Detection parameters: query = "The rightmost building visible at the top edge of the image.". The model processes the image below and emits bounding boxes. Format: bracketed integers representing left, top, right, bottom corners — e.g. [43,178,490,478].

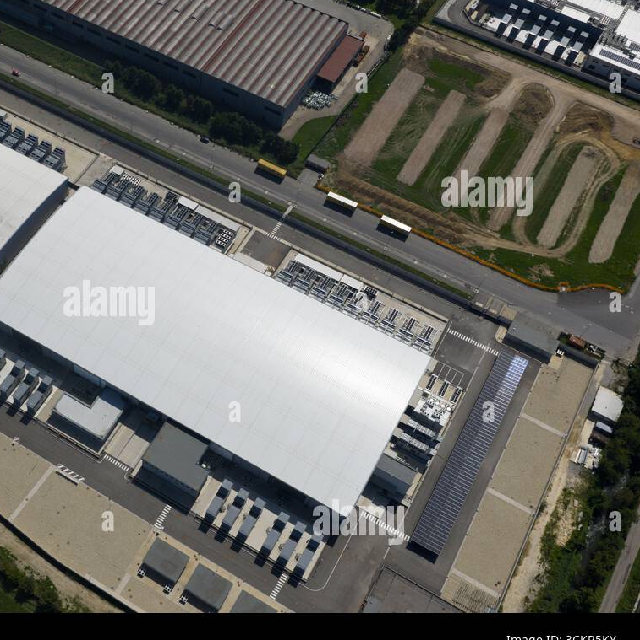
[582,30,640,89]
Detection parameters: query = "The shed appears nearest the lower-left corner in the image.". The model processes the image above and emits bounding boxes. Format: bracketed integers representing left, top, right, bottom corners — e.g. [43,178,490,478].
[142,538,191,585]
